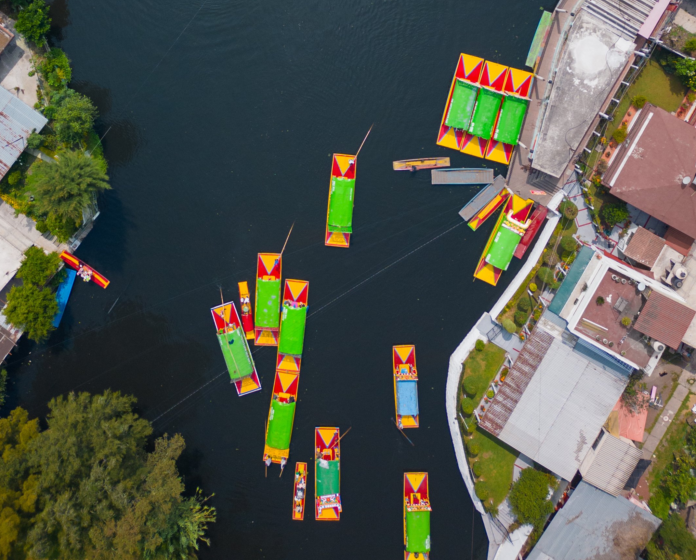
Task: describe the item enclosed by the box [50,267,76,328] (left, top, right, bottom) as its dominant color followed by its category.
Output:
blue boat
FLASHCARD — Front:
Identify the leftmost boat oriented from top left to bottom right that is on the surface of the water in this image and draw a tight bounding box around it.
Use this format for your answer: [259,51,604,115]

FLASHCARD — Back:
[61,250,111,290]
